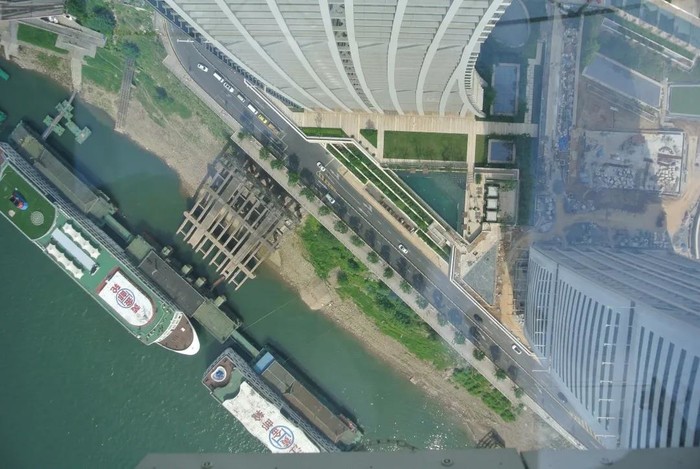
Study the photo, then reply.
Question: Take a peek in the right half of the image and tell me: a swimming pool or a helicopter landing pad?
swimming pool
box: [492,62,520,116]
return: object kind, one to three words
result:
swimming pool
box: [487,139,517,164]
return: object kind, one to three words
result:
swimming pool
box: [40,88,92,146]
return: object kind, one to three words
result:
pier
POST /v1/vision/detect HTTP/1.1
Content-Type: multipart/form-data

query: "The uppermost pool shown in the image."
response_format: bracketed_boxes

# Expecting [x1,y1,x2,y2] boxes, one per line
[489,0,532,45]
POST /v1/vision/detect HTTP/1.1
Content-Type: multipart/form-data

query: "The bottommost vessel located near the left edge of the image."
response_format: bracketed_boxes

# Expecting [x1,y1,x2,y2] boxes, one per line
[0,143,205,353]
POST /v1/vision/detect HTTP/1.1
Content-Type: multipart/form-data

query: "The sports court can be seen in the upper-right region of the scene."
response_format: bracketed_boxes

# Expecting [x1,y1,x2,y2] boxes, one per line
[665,83,700,116]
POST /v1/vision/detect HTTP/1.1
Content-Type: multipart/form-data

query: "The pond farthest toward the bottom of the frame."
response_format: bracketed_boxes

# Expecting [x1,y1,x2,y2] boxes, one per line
[385,168,467,239]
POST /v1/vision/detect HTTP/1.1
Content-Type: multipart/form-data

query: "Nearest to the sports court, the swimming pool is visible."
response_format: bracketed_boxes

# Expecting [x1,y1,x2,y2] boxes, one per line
[582,53,662,111]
